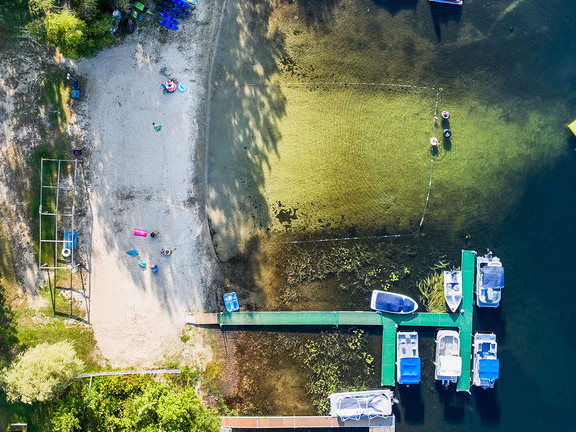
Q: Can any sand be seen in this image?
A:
Yes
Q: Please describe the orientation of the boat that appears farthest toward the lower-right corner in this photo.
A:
up and down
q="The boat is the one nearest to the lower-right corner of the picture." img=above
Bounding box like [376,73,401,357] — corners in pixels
[471,332,499,391]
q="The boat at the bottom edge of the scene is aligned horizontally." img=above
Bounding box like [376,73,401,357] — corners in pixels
[329,388,400,418]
